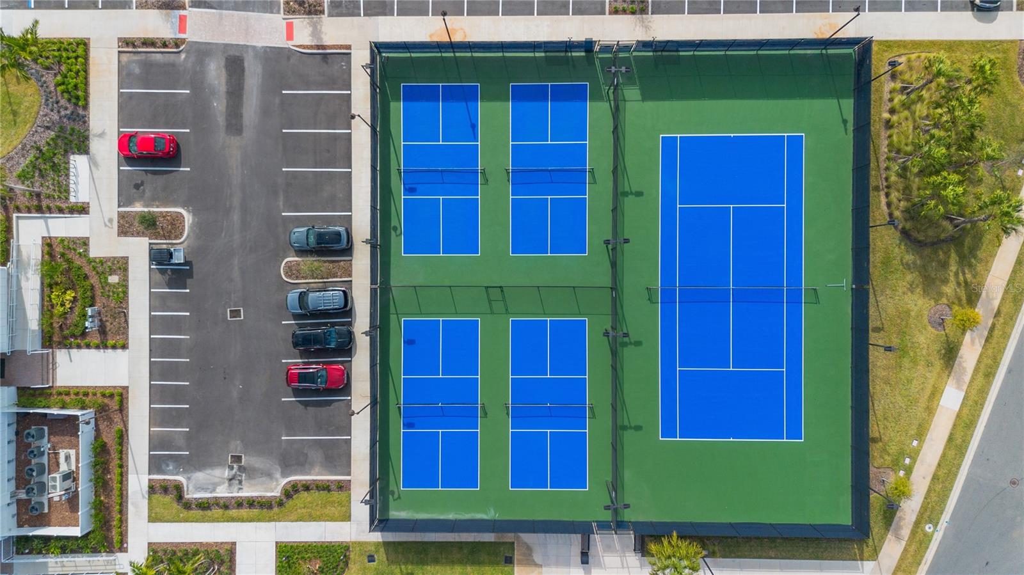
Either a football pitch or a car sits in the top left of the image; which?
car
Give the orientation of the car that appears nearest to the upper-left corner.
from left to right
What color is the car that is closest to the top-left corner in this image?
red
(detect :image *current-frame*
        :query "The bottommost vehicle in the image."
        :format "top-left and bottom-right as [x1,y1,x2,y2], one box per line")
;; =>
[288,364,348,392]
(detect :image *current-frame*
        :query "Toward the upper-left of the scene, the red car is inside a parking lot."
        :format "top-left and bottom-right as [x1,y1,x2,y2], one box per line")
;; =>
[121,129,179,159]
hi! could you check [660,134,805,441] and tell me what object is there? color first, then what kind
blue tennis court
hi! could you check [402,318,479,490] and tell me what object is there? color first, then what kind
blue sports court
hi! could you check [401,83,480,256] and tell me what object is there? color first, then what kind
blue sports court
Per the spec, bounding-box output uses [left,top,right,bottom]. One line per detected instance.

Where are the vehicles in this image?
[151,246,188,265]
[289,287,351,316]
[288,364,348,392]
[292,325,354,353]
[291,224,352,253]
[121,129,179,159]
